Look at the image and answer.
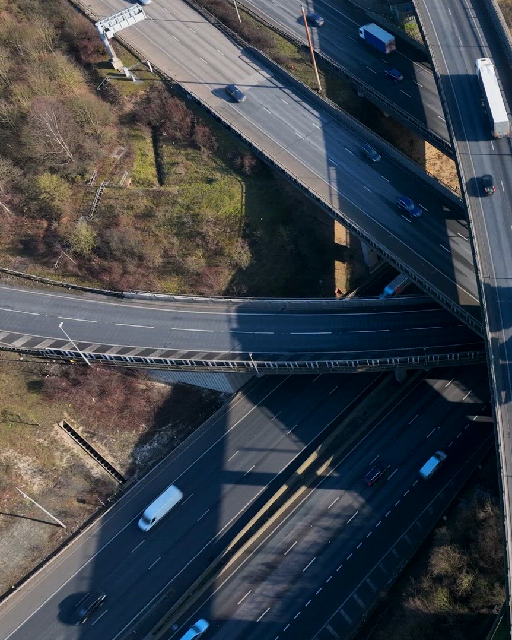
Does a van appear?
Yes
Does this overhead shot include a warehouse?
No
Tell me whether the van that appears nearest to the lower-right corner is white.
No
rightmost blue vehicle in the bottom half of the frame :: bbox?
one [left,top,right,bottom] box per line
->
[416,450,449,482]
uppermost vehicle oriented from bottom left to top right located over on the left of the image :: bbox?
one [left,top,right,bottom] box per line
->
[141,485,183,529]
